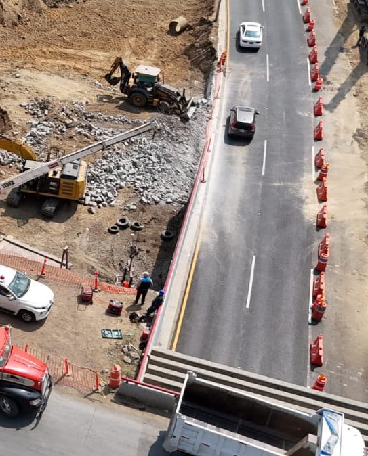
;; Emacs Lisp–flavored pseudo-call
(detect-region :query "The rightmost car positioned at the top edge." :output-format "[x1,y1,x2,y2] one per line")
[239,17,266,47]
